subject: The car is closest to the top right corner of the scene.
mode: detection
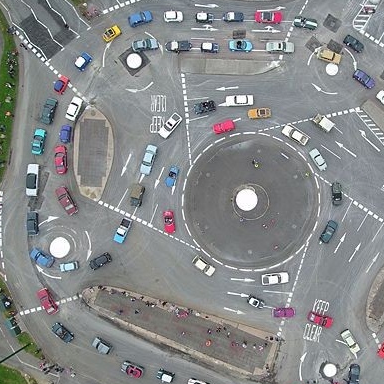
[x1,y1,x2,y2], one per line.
[340,33,366,54]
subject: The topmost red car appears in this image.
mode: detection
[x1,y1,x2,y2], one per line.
[254,10,282,24]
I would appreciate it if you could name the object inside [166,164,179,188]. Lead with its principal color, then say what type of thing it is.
blue vehicle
